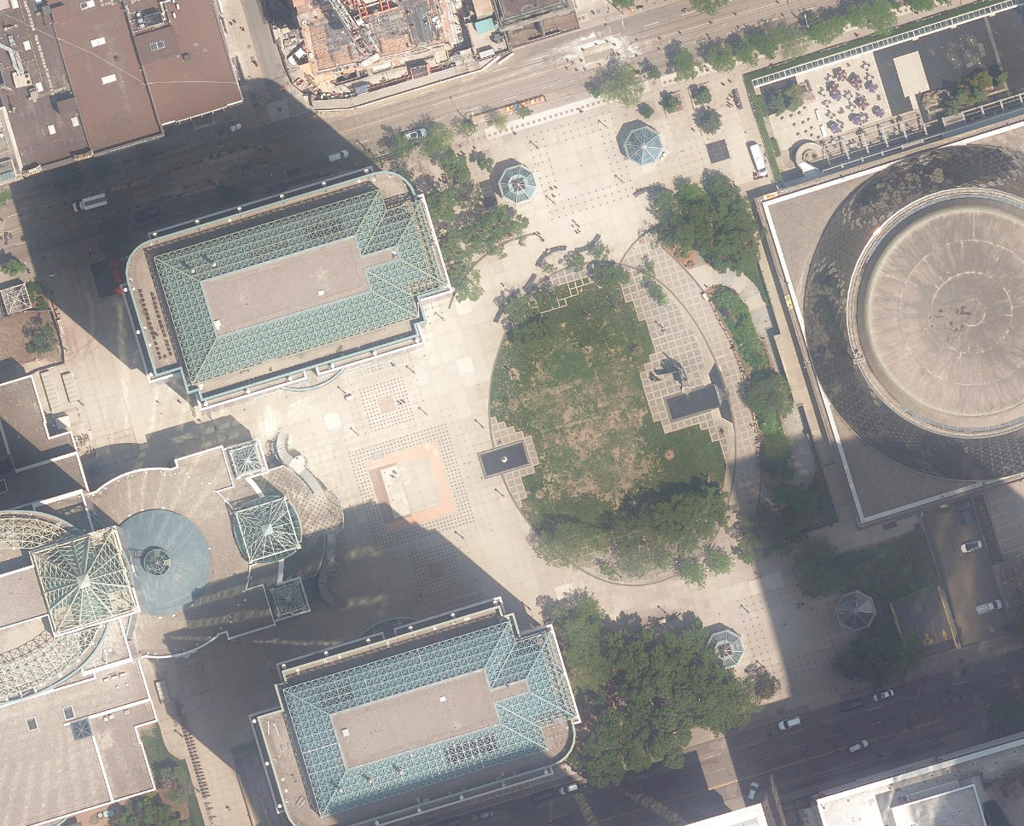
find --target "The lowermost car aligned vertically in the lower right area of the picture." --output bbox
[747,780,759,802]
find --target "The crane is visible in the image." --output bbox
[332,0,380,67]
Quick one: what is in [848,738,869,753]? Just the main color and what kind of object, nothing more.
gray car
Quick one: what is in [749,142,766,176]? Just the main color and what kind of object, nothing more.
white vehicle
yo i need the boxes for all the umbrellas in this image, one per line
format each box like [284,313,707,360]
[830,123,840,133]
[851,76,862,87]
[830,83,840,93]
[851,114,861,124]
[875,107,884,117]
[857,98,870,110]
[831,91,841,100]
[836,69,848,81]
[869,83,879,92]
